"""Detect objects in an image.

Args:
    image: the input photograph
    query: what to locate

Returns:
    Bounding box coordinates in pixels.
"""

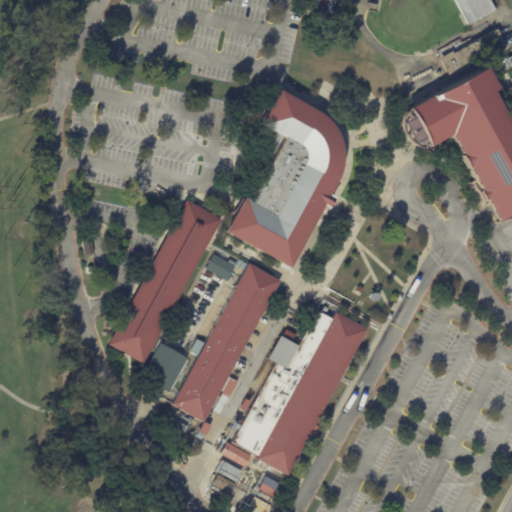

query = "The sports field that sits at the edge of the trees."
[366,0,468,56]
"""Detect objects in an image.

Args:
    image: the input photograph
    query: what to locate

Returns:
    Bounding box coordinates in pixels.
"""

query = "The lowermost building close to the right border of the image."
[398,68,512,219]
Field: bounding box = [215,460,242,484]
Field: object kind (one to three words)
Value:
building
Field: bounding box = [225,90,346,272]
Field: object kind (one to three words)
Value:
building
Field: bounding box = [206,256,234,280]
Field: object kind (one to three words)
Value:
shed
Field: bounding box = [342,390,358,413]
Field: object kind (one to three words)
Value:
vehicle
